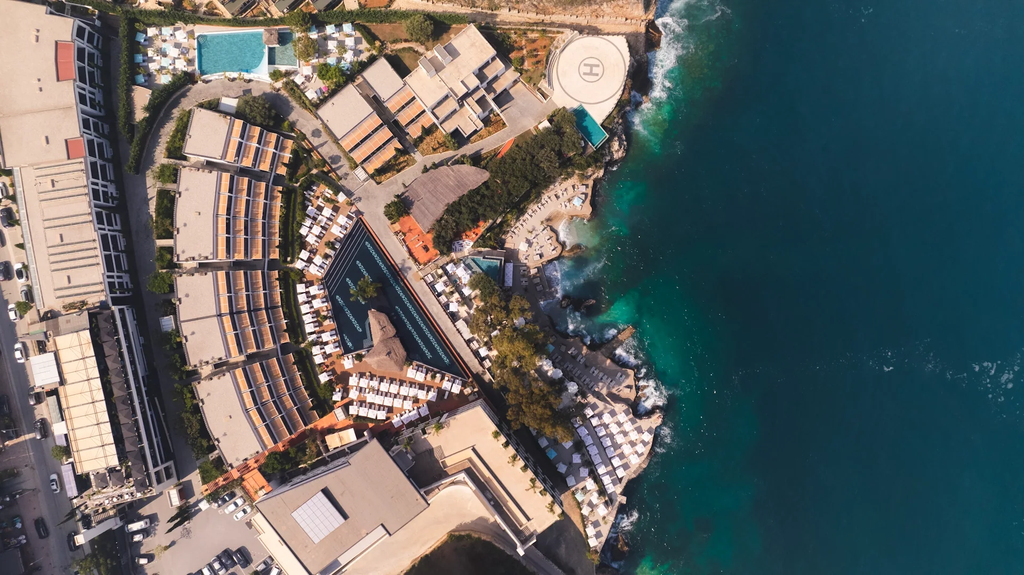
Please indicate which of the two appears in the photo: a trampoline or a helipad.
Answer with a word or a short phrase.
helipad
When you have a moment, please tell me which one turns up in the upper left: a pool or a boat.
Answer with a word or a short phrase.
pool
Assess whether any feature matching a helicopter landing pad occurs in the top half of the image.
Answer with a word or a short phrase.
Yes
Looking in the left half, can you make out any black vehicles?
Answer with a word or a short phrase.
Yes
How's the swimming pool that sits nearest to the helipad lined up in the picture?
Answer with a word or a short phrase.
at an angle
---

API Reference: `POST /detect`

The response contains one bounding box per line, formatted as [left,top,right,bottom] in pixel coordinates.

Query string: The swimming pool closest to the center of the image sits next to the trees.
[470,256,500,284]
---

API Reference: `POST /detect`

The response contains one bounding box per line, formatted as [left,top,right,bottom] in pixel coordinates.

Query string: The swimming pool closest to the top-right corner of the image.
[572,105,608,149]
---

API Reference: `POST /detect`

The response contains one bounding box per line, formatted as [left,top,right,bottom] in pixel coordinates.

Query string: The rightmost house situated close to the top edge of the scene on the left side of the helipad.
[403,23,521,146]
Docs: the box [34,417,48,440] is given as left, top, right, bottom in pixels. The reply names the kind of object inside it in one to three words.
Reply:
car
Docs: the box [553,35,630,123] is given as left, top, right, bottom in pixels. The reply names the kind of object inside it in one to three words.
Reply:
helipad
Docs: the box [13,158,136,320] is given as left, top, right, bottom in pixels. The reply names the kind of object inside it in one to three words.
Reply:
building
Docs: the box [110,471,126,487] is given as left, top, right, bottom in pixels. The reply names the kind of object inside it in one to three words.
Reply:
umbrella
